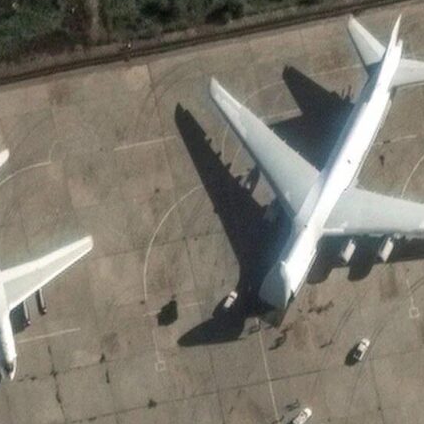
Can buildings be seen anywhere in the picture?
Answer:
No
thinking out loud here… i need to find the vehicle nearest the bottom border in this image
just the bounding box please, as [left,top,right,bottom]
[293,411,313,424]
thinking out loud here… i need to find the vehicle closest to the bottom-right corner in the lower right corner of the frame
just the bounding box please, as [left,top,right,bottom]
[352,340,369,362]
